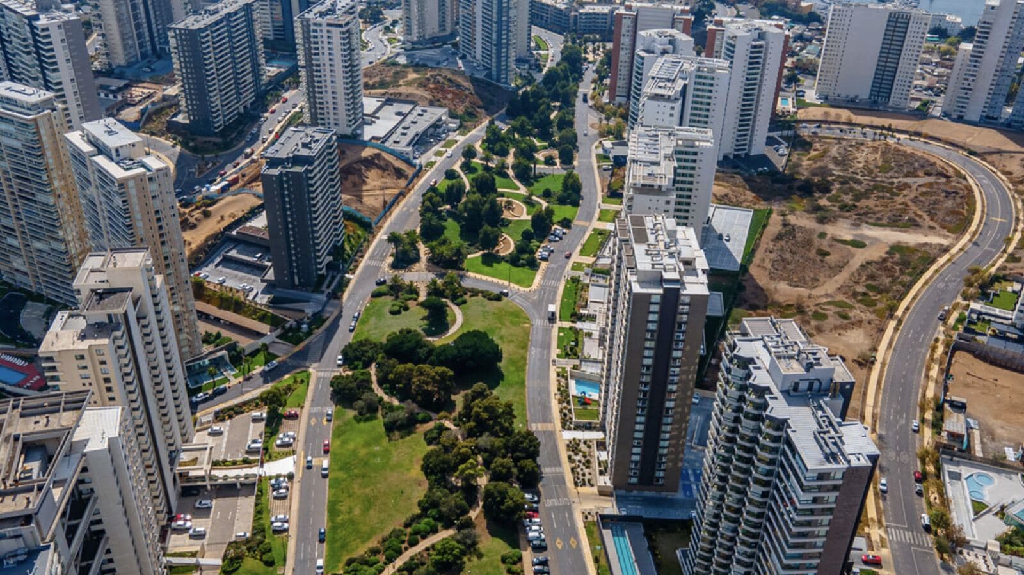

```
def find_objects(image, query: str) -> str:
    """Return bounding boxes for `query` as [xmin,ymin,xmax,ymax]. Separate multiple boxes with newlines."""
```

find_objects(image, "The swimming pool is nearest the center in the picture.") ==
[573,378,596,396]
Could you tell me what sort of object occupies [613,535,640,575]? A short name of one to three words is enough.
swimming pool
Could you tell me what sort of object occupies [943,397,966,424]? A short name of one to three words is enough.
shed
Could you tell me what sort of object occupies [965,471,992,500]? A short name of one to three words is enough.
swimming pool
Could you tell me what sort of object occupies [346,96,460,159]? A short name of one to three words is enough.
building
